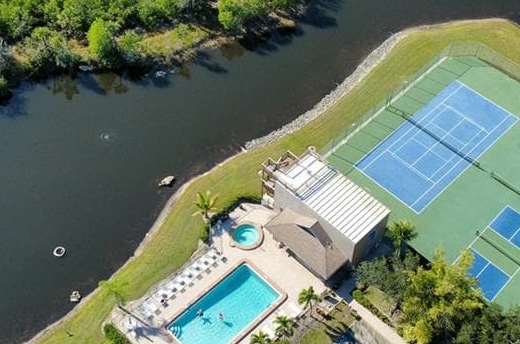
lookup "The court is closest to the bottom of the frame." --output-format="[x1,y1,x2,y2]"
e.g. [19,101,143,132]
[451,205,520,300]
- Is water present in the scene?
Yes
